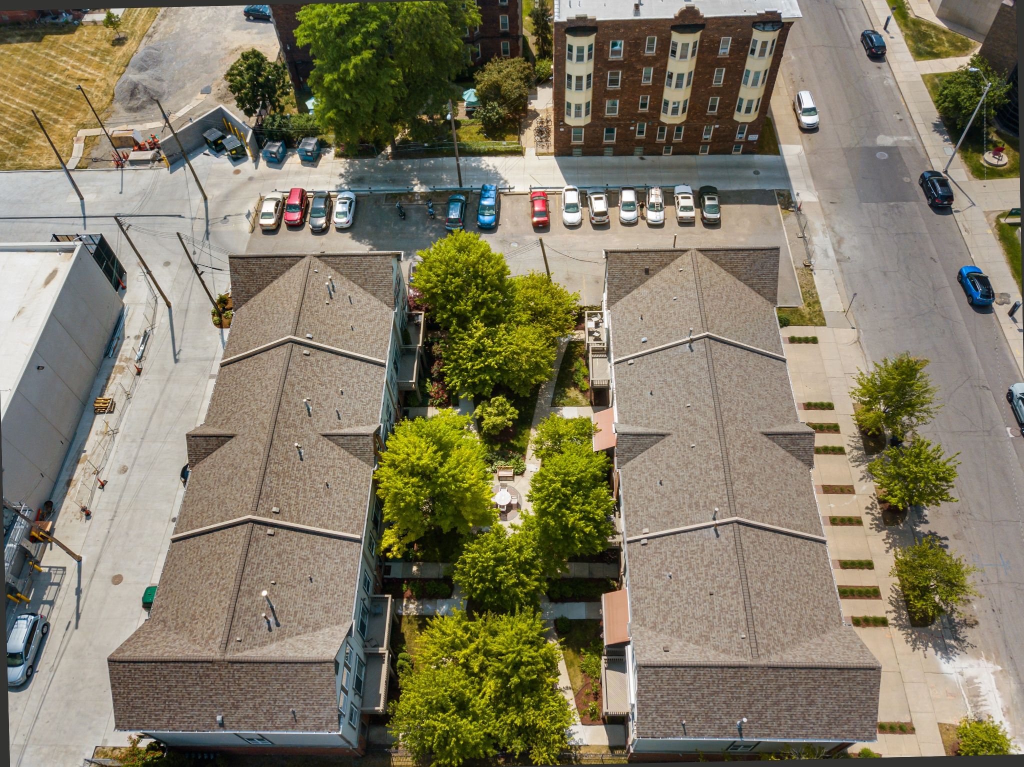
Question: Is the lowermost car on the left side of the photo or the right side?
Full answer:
The lowermost car is on the left side of the image.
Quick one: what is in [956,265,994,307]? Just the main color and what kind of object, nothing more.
blue car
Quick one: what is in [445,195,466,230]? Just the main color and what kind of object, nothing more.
blue car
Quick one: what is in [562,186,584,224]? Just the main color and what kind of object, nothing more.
white car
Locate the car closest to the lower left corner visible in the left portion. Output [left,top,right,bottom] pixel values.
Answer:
[2,610,49,687]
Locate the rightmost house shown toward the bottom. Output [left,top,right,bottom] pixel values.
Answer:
[585,233,881,761]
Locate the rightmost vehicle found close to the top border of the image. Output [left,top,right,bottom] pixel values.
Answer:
[861,29,887,57]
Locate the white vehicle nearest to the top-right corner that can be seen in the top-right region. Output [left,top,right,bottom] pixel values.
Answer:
[795,93,820,129]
